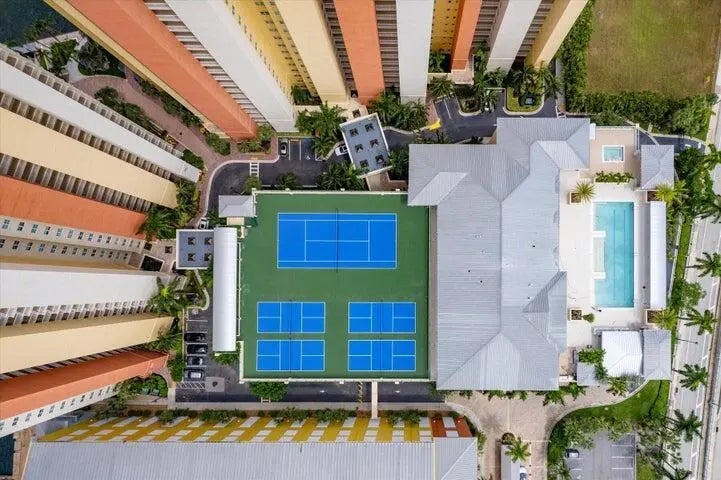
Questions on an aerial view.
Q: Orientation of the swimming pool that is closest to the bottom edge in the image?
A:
vertically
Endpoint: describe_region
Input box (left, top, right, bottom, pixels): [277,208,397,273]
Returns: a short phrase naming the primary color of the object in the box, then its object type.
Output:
blue tennis court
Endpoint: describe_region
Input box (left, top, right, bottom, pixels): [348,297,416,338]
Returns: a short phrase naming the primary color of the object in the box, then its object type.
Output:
blue sports court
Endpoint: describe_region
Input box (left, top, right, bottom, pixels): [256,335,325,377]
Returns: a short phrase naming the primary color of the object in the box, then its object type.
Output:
blue sports court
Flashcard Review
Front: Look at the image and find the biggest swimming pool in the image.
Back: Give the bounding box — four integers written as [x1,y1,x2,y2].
[592,200,636,309]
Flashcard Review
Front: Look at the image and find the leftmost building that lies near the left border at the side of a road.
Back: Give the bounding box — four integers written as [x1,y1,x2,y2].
[0,45,200,439]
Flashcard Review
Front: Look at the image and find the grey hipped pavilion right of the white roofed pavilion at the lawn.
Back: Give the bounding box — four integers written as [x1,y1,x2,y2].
[641,329,672,381]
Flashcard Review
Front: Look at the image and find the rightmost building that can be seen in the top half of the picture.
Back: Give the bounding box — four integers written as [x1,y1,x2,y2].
[637,145,675,191]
